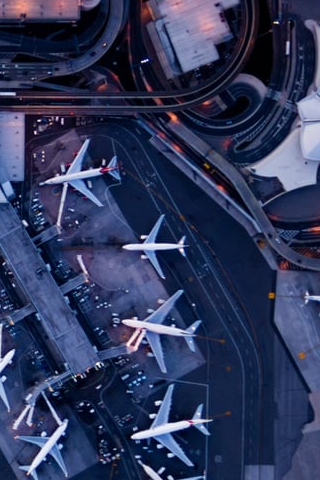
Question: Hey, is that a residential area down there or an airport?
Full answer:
The picture captures an airport.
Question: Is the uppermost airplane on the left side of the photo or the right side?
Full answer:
The uppermost airplane sits on the left side.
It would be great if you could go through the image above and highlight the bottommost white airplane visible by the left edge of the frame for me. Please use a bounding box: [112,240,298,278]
[13,420,68,480]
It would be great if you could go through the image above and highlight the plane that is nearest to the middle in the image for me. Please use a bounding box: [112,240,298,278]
[122,213,189,279]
